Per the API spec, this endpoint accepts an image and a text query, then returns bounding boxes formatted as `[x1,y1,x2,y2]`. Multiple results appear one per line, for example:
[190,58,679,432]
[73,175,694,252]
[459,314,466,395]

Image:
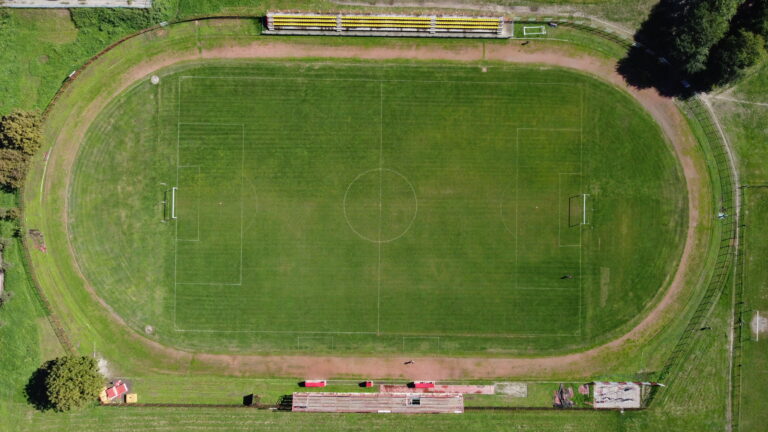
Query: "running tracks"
[42,35,713,381]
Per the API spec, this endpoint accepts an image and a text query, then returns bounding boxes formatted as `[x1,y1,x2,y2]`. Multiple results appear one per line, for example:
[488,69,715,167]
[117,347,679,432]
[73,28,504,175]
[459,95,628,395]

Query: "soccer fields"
[68,62,687,356]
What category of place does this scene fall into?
sports ground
